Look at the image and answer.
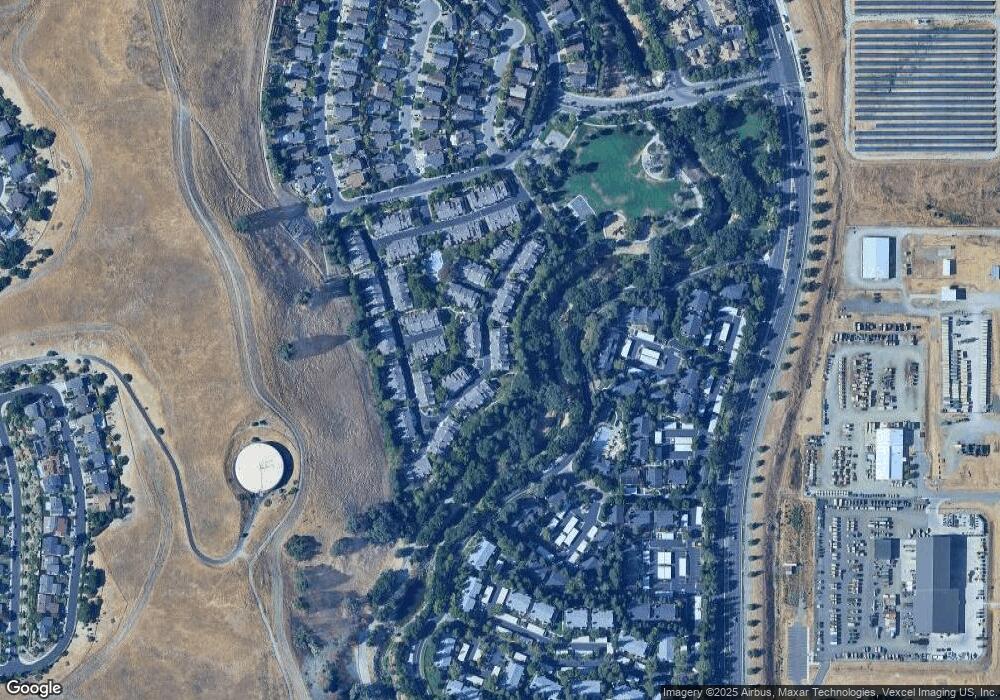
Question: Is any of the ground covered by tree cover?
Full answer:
Yes, tree cover can be seen from above here.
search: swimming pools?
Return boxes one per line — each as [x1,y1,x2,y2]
[593,425,622,460]
[430,249,443,277]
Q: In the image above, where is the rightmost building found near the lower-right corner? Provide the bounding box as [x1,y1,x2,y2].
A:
[916,536,958,634]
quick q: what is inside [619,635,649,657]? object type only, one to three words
building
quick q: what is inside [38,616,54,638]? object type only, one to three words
house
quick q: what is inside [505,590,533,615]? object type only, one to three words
building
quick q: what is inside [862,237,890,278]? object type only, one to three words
barn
